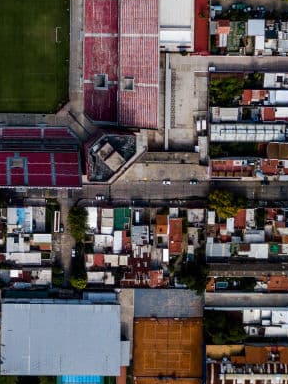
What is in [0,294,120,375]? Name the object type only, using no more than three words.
building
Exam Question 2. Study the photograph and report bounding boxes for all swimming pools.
[63,376,100,384]
[216,281,228,288]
